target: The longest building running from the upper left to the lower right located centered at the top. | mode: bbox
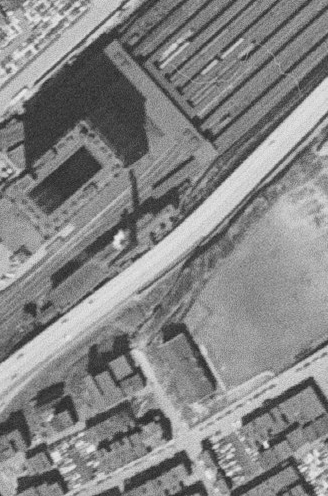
[105,39,217,167]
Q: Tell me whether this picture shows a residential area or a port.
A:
residential area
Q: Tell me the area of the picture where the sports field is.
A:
right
